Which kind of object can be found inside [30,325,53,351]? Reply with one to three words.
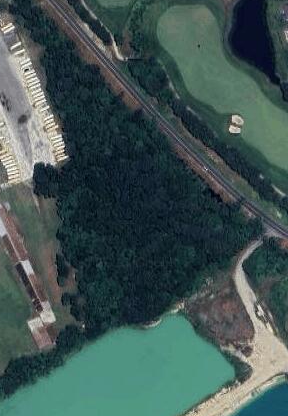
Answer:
shed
